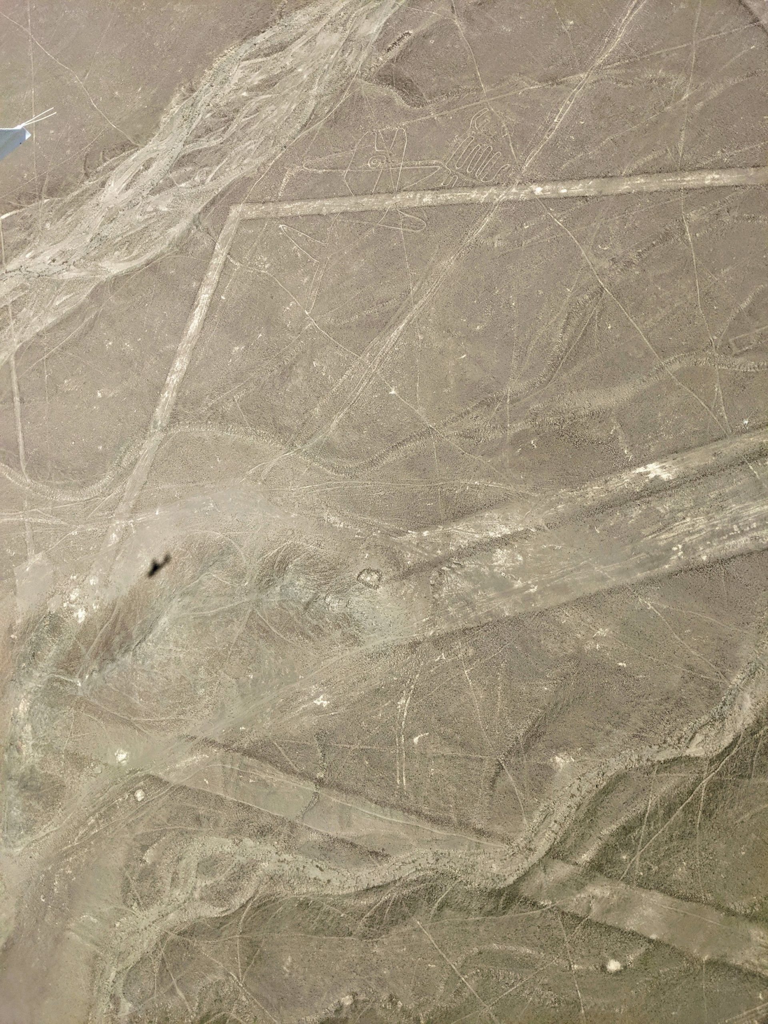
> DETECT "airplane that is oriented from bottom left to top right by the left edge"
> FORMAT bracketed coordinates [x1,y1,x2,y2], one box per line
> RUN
[0,107,56,163]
